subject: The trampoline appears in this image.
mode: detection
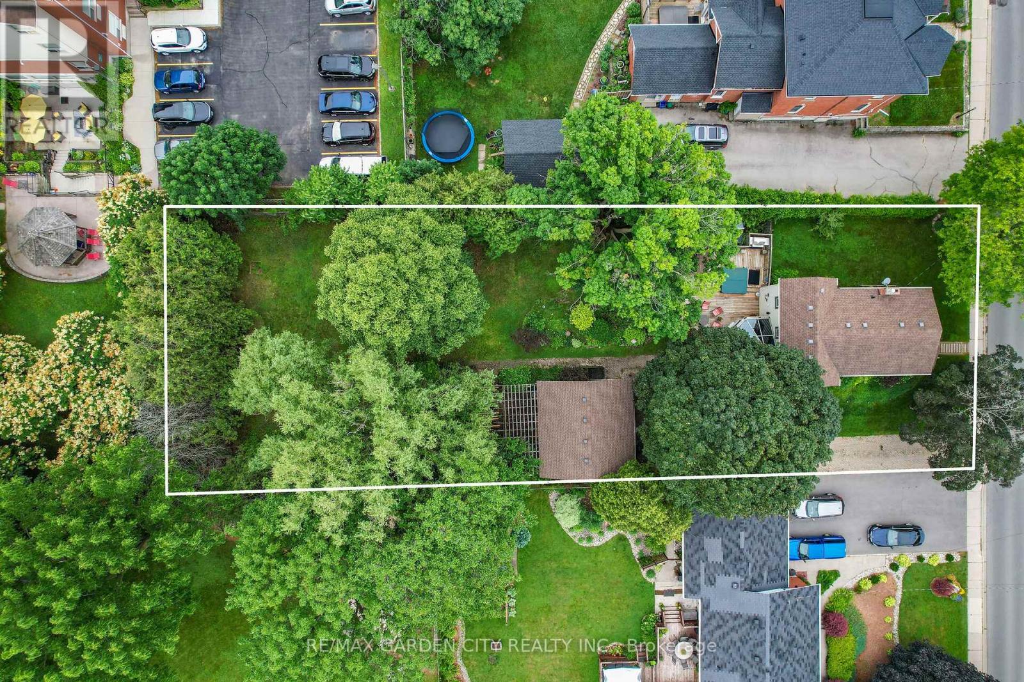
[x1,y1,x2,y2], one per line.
[422,110,476,164]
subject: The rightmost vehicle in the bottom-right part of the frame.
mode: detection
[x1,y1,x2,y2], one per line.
[862,521,926,552]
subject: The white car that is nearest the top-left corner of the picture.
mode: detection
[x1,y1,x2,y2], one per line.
[150,27,211,59]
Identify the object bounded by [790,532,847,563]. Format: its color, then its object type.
blue truck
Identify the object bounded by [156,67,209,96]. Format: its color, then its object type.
blue car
